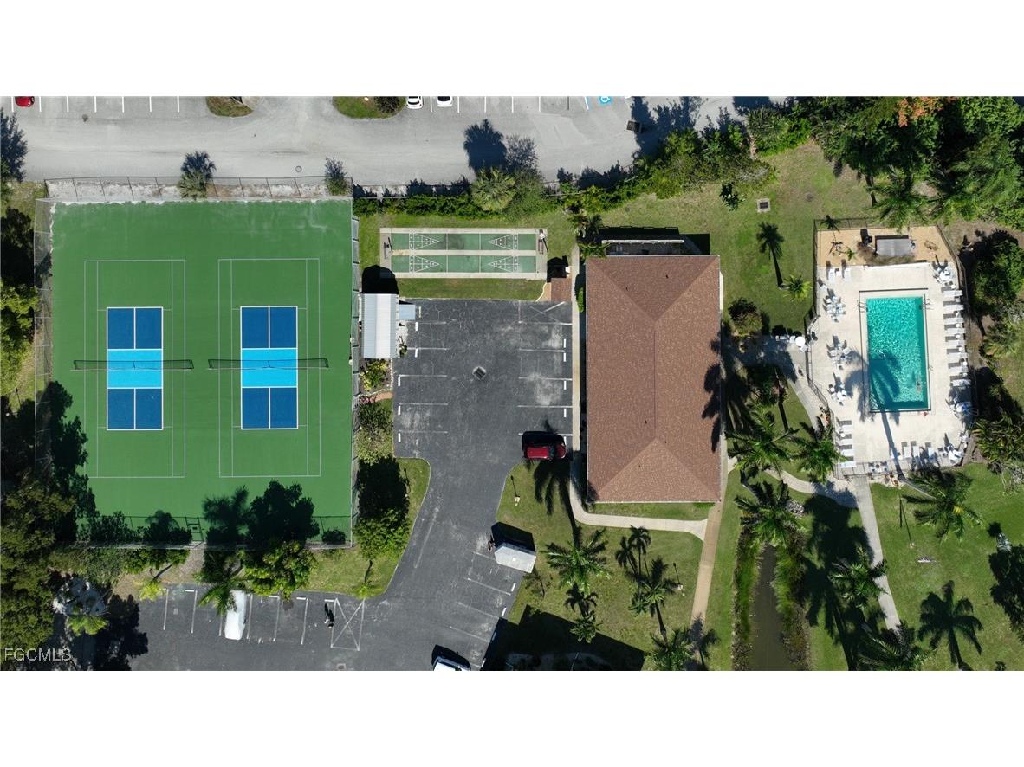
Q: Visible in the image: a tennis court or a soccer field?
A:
tennis court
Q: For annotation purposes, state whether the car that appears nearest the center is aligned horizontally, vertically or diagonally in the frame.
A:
horizontally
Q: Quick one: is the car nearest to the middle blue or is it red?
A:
red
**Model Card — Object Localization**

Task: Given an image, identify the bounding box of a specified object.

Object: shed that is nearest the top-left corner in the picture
[364,292,401,360]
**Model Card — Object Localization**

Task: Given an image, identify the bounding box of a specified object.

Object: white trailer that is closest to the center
[489,541,537,573]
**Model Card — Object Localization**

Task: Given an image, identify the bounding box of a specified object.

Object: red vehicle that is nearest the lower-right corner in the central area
[525,440,566,460]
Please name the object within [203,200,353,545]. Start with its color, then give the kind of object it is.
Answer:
green tennis court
